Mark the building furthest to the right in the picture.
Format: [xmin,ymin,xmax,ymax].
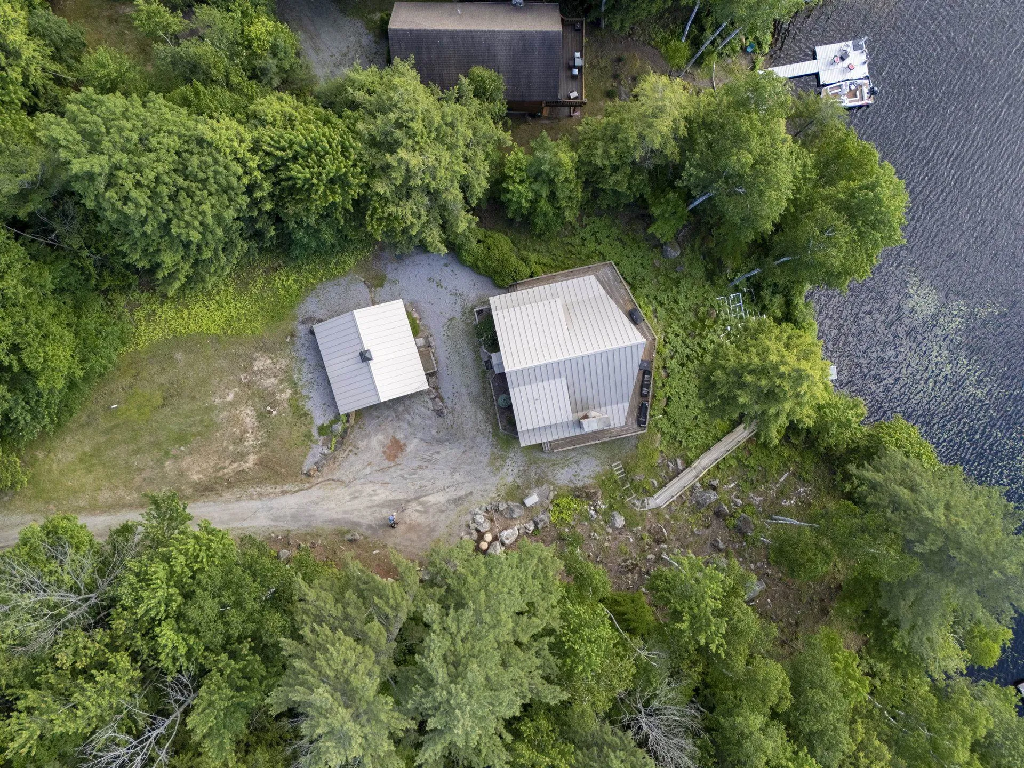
[489,261,657,451]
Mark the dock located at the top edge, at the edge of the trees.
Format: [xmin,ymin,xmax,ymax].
[754,38,870,87]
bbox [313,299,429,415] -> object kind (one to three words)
building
